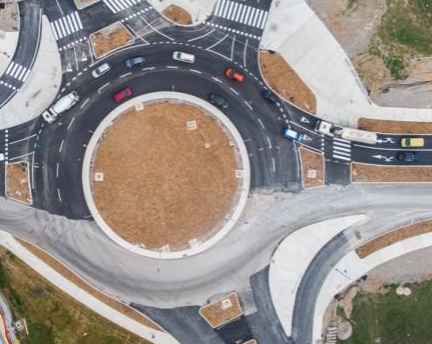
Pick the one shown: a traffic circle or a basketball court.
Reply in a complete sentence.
I can see a traffic circle in this picture.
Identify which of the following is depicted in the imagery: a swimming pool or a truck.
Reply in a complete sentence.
It is a truck that can be seen here.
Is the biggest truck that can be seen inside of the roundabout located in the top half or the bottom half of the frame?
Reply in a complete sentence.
It is in the top half that the biggest truck that can be seen inside of the roundabout appears.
